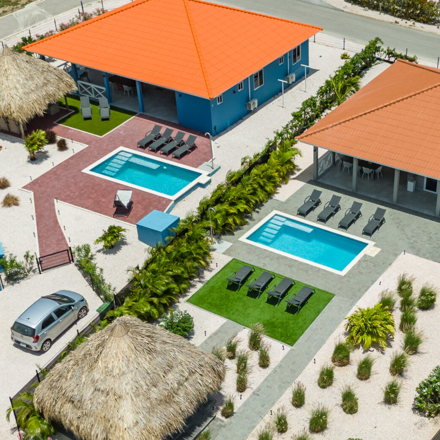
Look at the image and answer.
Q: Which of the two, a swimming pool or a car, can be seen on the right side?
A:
swimming pool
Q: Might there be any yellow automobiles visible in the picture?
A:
No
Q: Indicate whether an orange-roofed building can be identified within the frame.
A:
Yes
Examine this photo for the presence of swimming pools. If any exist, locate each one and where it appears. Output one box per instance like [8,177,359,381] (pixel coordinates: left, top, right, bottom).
[240,210,373,276]
[82,146,216,207]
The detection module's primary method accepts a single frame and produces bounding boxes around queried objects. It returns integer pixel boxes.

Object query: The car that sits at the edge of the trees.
[11,296,88,351]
